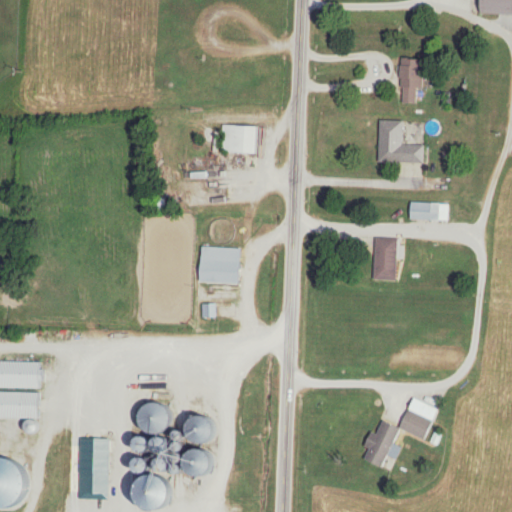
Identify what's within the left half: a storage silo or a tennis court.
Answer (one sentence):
It is a storage silo that can be seen within the left half.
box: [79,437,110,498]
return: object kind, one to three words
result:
shed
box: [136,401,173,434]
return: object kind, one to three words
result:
silo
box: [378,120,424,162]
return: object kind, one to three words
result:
house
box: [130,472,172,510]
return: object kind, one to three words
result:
silo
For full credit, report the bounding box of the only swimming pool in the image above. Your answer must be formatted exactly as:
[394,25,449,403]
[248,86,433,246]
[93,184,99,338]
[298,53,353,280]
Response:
[426,120,440,135]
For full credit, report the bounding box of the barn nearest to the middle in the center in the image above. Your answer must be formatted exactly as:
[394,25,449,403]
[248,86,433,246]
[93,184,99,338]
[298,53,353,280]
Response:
[199,246,243,285]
